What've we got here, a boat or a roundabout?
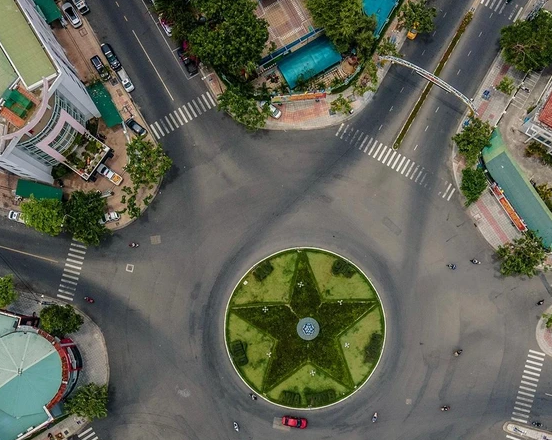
roundabout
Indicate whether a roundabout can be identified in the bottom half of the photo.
Yes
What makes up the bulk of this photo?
paved ground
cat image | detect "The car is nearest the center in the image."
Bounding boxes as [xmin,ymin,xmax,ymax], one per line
[266,102,283,120]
